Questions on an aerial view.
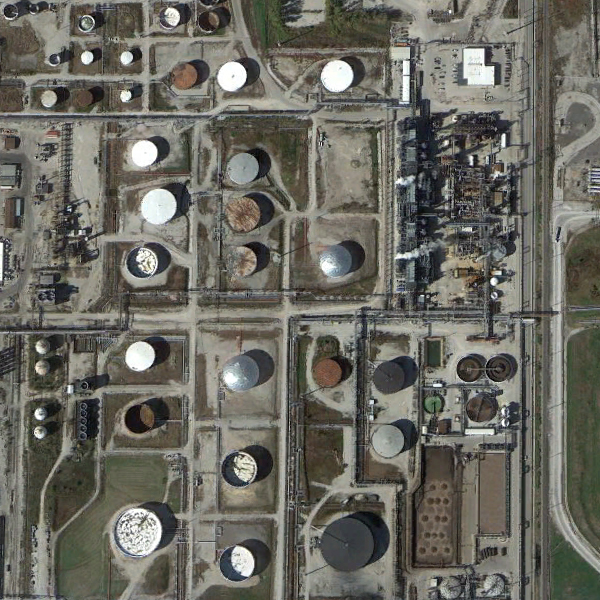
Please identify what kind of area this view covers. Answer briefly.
industrial area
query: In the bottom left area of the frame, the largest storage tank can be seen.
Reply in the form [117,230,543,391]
[113,506,165,557]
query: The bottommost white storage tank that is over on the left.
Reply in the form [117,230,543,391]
[219,544,256,582]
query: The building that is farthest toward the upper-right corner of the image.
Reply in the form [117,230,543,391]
[463,48,495,86]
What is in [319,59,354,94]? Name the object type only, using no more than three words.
storage tank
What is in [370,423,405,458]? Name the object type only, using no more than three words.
storage tank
